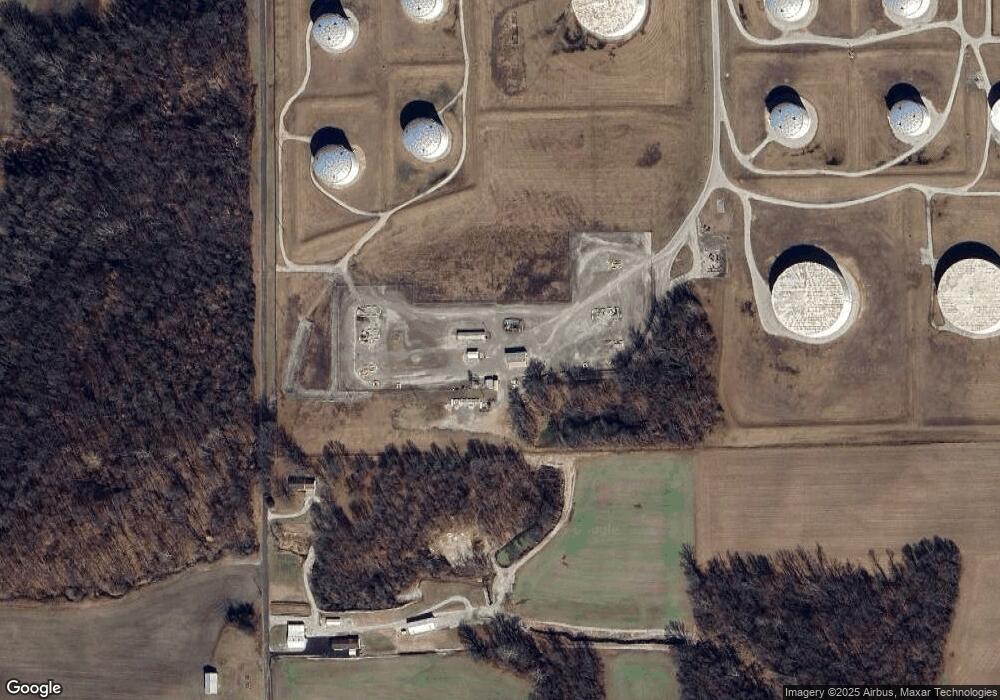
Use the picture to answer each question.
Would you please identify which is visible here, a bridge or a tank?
tank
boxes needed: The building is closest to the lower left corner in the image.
[205,673,220,697]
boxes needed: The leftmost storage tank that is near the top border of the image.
[312,13,354,51]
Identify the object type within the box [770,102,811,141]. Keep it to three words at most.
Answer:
storage tank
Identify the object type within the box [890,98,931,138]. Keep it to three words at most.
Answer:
storage tank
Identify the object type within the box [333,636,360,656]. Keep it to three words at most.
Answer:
house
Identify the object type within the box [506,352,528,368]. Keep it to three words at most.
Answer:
building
